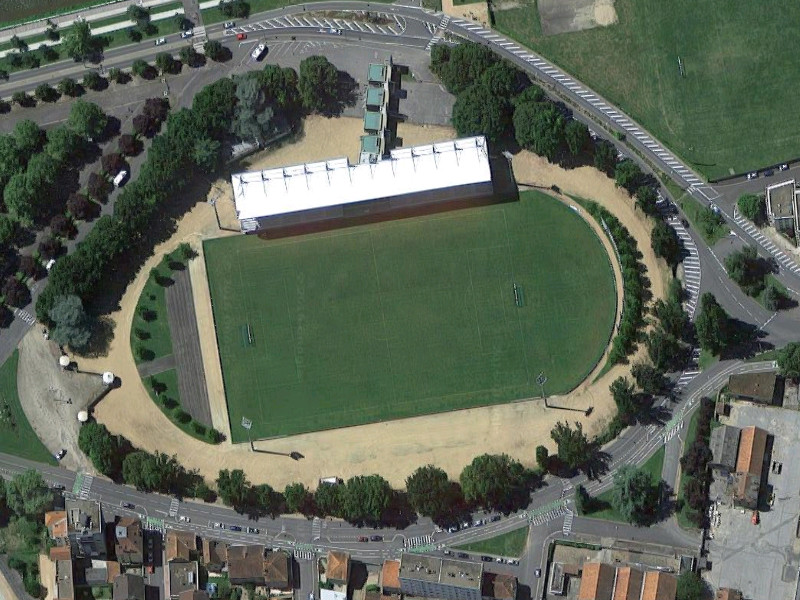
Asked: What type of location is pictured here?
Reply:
sports ground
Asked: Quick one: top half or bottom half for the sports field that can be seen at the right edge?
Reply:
top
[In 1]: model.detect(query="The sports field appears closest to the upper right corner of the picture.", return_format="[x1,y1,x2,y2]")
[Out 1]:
[491,0,800,182]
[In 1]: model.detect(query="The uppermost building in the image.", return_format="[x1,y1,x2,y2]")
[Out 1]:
[369,64,387,88]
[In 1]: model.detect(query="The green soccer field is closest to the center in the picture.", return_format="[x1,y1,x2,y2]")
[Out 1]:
[203,189,616,443]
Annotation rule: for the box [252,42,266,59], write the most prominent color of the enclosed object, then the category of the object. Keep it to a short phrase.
white camper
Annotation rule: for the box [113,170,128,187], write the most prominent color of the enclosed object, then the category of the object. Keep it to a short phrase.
white vehicle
